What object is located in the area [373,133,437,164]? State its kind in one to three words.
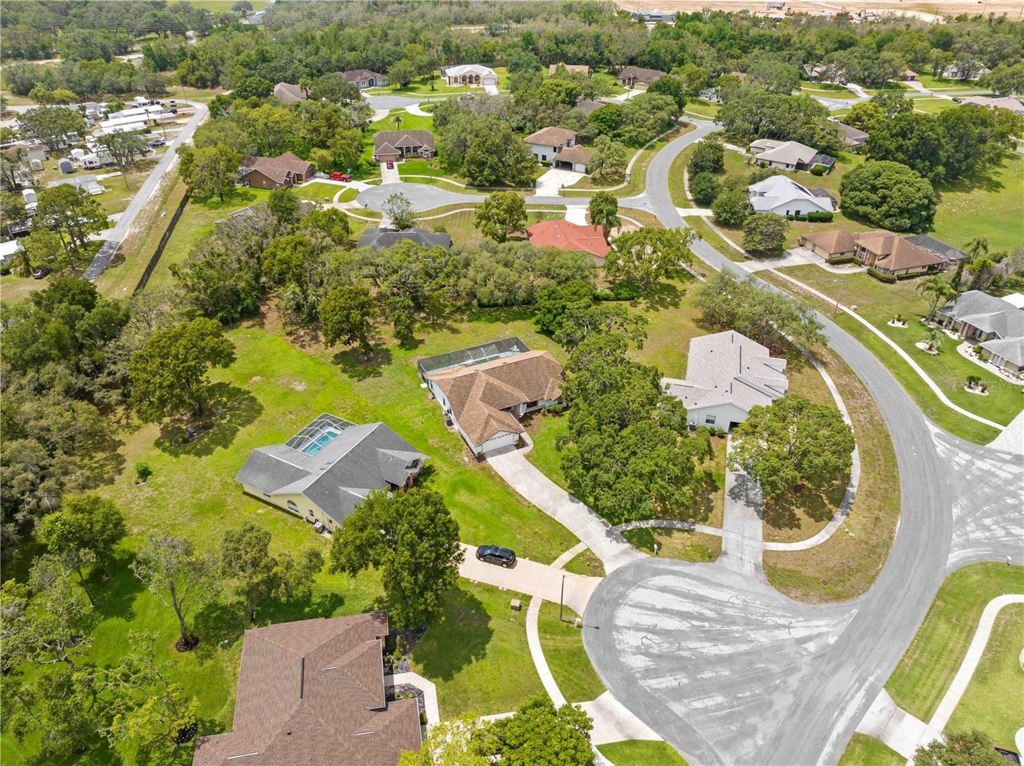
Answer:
house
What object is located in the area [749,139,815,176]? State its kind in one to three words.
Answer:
house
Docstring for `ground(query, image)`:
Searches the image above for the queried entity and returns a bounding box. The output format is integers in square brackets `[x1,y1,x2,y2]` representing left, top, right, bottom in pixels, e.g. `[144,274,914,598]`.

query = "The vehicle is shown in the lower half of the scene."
[473,542,519,568]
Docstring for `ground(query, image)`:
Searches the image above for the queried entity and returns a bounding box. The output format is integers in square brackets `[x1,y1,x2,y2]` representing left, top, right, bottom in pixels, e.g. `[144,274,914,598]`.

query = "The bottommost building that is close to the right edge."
[936,292,1024,379]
